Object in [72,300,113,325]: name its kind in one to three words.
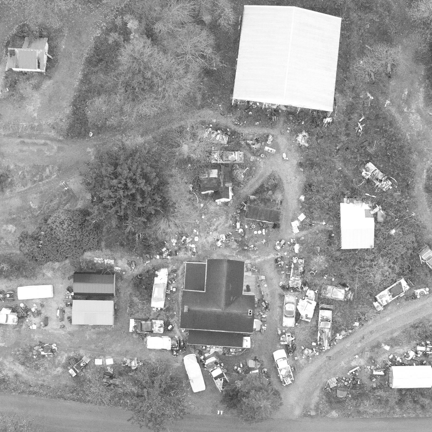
building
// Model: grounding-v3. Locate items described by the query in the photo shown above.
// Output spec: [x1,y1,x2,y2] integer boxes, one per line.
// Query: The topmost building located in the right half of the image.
[232,5,342,117]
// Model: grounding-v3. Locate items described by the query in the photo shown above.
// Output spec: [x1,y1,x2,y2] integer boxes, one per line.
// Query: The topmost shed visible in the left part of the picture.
[6,36,52,74]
